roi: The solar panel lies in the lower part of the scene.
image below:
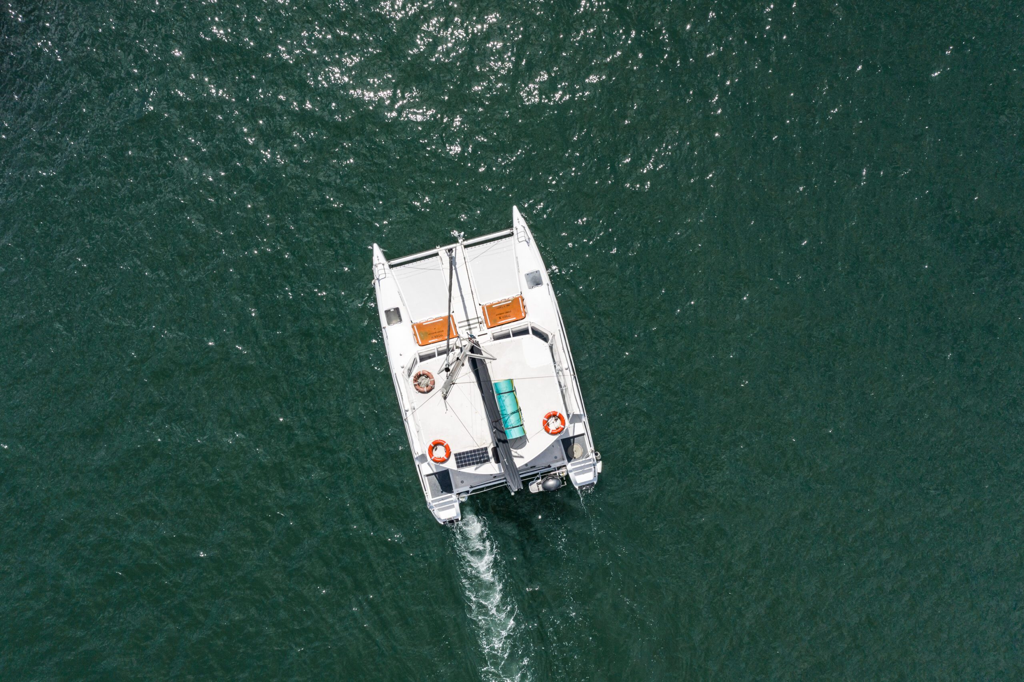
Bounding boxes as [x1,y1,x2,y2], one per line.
[453,444,492,469]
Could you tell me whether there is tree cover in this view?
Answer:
No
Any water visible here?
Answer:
Yes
